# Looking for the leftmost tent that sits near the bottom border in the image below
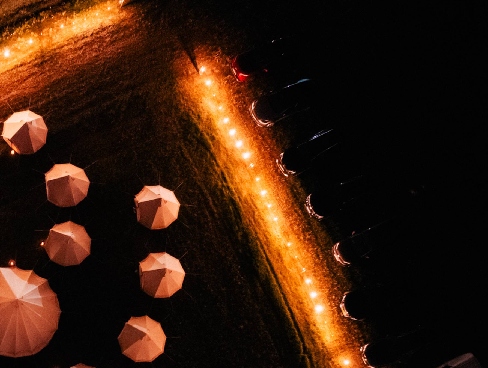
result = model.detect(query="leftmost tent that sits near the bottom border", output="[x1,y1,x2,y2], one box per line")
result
[0,256,76,366]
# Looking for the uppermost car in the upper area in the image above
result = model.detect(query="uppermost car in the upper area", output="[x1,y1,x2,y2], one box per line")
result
[228,38,292,84]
